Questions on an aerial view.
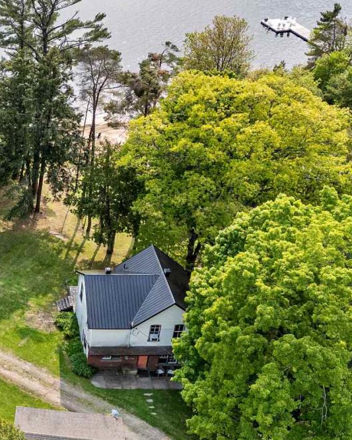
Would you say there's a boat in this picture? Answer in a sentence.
No, there is no boat in the image.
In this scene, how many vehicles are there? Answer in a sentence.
There are no vehicles in the image.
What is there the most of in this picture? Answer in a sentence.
What you mostly see from above here is trees.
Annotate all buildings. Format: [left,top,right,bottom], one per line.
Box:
[73,243,203,365]
[13,405,127,440]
